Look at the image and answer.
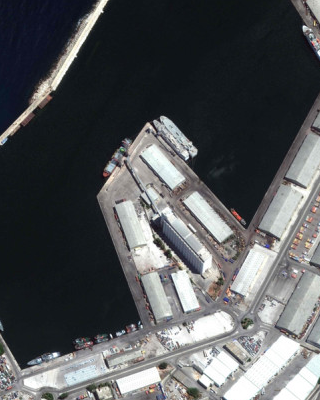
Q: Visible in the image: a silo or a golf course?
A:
silo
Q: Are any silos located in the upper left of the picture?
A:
No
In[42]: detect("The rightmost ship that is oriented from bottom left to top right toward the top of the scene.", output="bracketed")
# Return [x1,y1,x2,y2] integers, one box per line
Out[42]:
[104,137,133,177]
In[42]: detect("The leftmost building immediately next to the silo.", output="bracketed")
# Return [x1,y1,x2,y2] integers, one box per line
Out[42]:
[116,200,146,252]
